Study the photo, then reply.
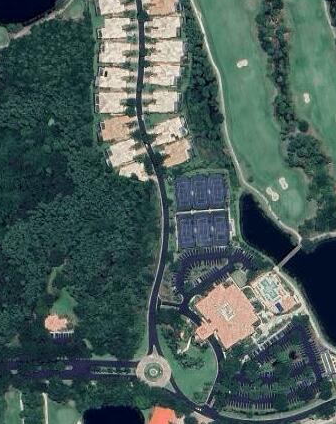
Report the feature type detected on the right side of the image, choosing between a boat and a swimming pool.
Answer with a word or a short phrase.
swimming pool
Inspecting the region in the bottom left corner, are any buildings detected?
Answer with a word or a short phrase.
Yes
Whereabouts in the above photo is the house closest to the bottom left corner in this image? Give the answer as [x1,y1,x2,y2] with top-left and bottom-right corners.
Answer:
[43,314,67,333]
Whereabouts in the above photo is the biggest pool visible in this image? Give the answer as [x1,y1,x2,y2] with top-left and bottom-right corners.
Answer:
[251,272,302,316]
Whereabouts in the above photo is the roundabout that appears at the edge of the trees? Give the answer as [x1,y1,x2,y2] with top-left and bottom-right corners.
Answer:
[130,346,175,394]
